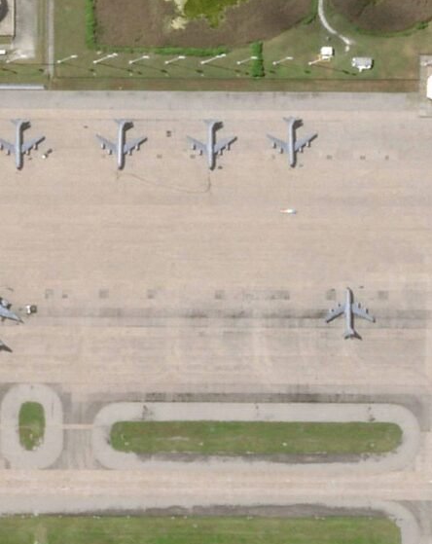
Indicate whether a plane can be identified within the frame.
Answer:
Yes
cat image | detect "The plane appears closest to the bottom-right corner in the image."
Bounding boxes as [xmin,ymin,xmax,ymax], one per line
[325,288,375,339]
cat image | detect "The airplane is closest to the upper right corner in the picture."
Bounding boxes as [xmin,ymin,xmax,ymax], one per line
[268,115,317,168]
